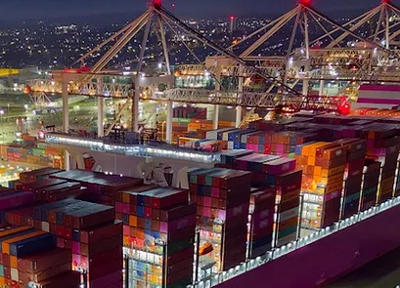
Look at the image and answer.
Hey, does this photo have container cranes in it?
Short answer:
Yes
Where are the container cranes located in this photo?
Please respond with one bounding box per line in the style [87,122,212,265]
[341,27,400,83]
[268,1,400,106]
[22,3,344,141]
[175,1,400,127]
